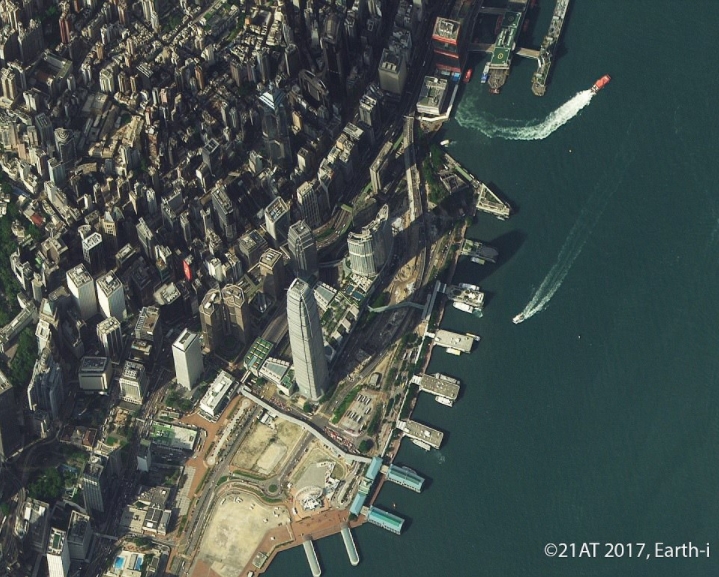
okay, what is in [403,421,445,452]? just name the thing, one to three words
pier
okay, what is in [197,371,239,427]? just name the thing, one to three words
building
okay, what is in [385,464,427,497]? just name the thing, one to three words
pier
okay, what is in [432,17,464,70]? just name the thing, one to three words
building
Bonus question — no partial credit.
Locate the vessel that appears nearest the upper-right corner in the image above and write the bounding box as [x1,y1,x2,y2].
[590,76,610,93]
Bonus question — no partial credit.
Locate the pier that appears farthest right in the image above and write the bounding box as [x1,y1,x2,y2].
[532,0,569,95]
